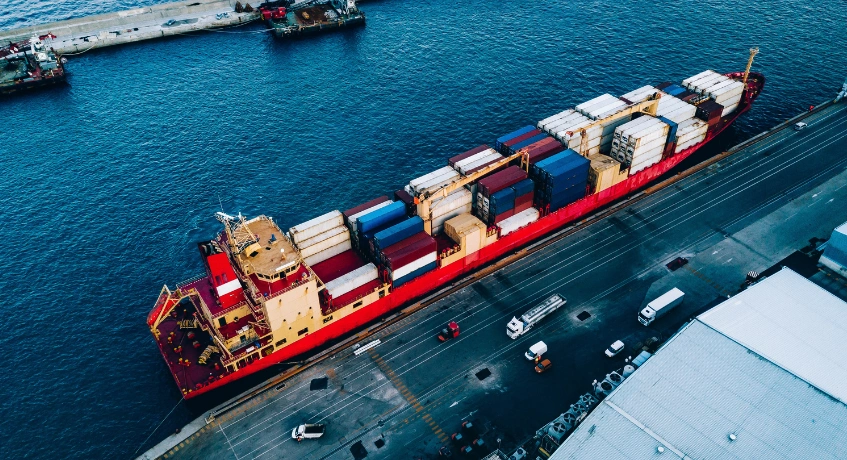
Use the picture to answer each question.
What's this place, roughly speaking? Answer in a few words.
port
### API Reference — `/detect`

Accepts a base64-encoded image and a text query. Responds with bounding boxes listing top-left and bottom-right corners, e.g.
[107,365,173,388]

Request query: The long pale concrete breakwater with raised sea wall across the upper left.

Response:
[0,0,356,66]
